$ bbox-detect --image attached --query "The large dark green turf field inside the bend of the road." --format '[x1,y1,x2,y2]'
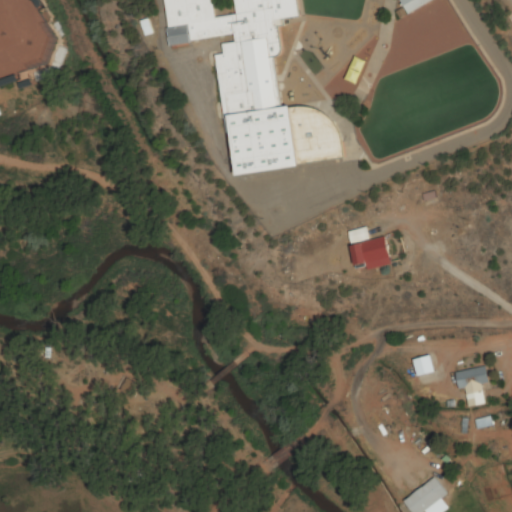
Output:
[361,0,502,162]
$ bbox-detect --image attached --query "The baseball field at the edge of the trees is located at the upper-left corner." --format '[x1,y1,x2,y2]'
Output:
[0,0,56,79]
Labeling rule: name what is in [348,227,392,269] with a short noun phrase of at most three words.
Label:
house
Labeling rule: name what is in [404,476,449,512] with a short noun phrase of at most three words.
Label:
barn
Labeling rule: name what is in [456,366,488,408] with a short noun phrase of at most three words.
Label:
house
